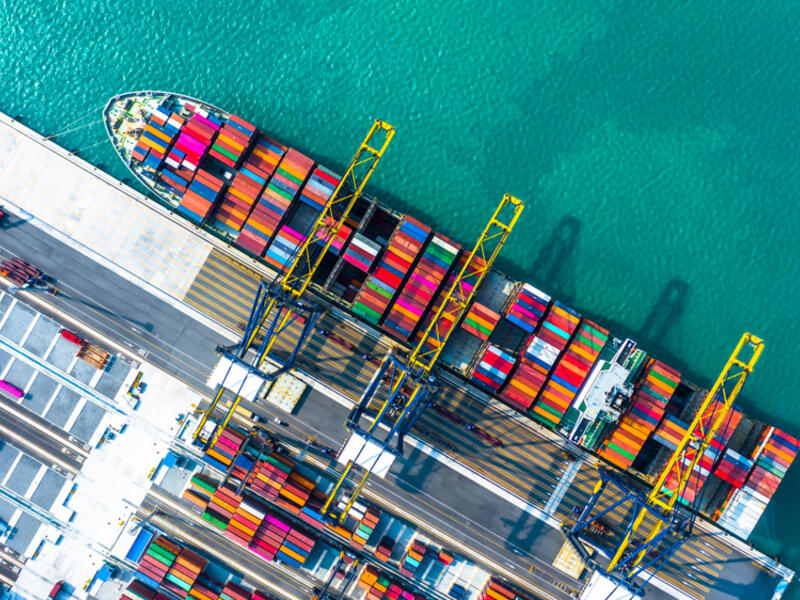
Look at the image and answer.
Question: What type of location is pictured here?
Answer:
port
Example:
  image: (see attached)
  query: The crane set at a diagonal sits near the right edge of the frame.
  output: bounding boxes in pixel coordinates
[559,334,766,600]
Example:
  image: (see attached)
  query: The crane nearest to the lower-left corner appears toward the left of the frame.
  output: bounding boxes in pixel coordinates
[220,428,274,495]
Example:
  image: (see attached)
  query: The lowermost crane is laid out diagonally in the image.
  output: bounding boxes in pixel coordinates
[313,538,362,600]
